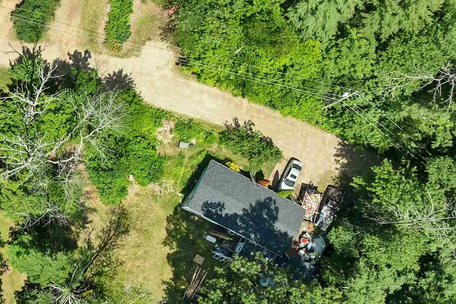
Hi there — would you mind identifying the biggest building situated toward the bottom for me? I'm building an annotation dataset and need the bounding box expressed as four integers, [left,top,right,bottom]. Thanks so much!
[183,159,307,256]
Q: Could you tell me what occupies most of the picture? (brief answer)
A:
trees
